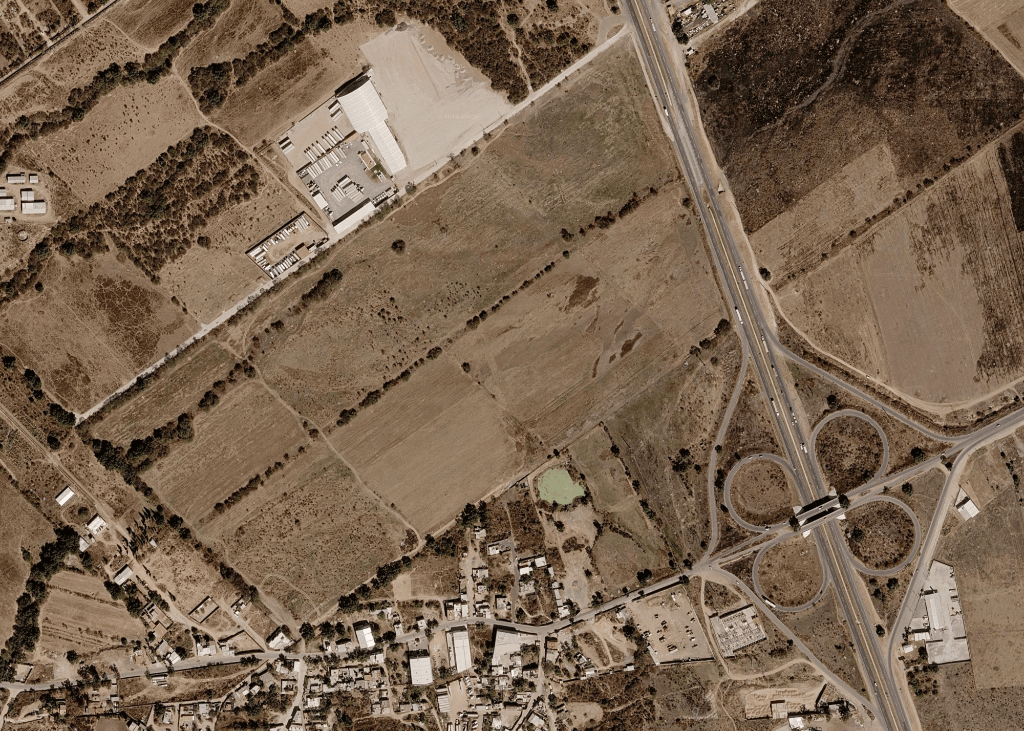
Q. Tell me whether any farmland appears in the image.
Yes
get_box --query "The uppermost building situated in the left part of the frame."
[338,78,388,132]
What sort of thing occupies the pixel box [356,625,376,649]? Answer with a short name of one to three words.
building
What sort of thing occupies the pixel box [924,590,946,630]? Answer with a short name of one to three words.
building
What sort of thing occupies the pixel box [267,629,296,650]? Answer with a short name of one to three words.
house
